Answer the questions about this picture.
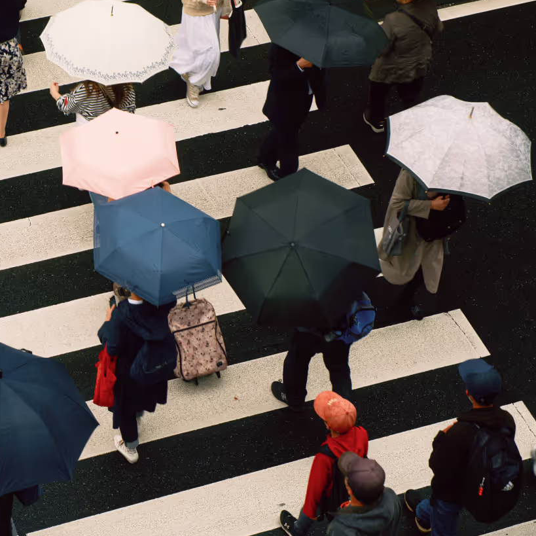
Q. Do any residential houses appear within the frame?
No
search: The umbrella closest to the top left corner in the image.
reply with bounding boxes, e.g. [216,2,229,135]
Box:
[40,0,177,85]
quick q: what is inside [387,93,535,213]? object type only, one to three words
umbrella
